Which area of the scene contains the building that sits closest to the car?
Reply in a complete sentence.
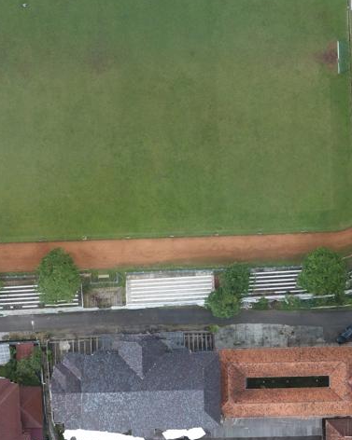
The building that sits closest to the car is in the bottom right part of the image.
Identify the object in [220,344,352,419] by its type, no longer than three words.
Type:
building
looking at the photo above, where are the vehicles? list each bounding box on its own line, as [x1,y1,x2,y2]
[336,326,352,346]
